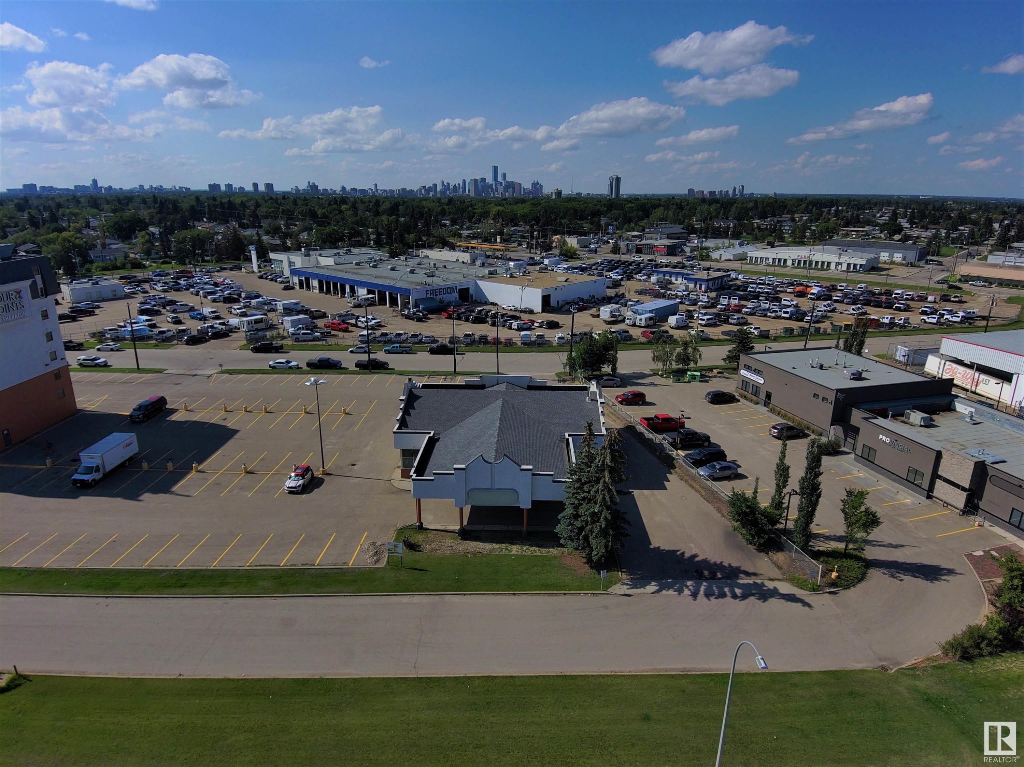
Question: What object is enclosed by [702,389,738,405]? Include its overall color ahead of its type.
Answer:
black car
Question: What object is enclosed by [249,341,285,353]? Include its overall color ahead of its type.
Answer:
black vehicle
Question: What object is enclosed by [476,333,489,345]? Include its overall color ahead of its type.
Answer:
black vehicle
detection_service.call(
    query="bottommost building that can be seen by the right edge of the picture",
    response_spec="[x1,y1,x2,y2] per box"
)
[829,399,1024,539]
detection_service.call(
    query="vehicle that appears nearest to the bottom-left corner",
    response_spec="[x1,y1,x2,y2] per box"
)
[68,431,145,491]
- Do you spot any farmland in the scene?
No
